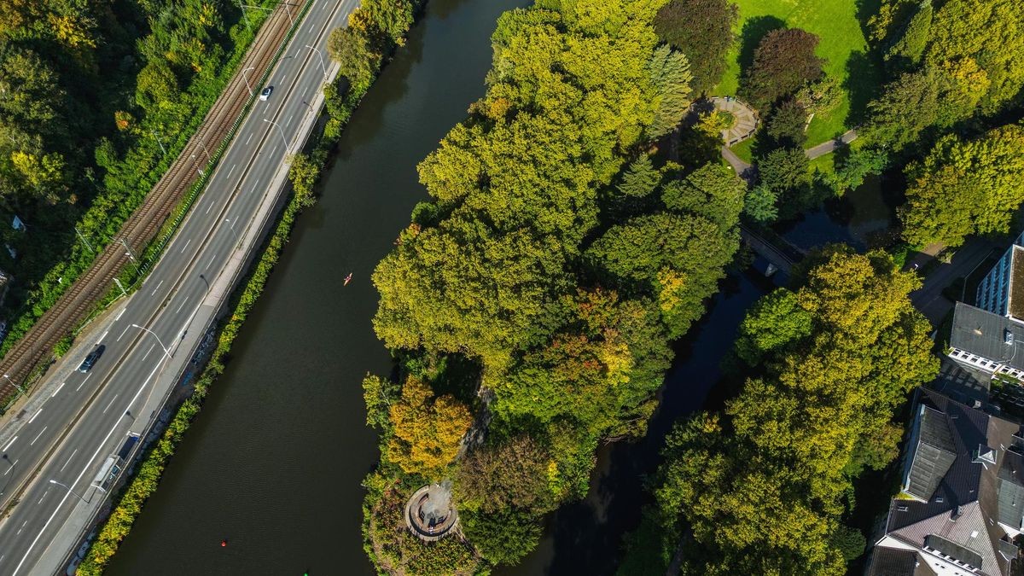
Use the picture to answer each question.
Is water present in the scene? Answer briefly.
Yes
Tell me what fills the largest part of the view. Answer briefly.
trees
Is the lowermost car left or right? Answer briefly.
left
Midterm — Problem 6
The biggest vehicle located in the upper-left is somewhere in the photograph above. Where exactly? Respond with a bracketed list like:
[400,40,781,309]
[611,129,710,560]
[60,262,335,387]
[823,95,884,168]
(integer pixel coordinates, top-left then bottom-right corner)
[261,87,273,99]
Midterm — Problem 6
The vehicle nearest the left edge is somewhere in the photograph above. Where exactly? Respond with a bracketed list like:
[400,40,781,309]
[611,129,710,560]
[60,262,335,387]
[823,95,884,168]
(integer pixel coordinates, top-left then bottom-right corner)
[80,348,101,370]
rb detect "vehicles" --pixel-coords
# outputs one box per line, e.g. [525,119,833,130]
[261,87,273,99]
[80,348,101,370]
